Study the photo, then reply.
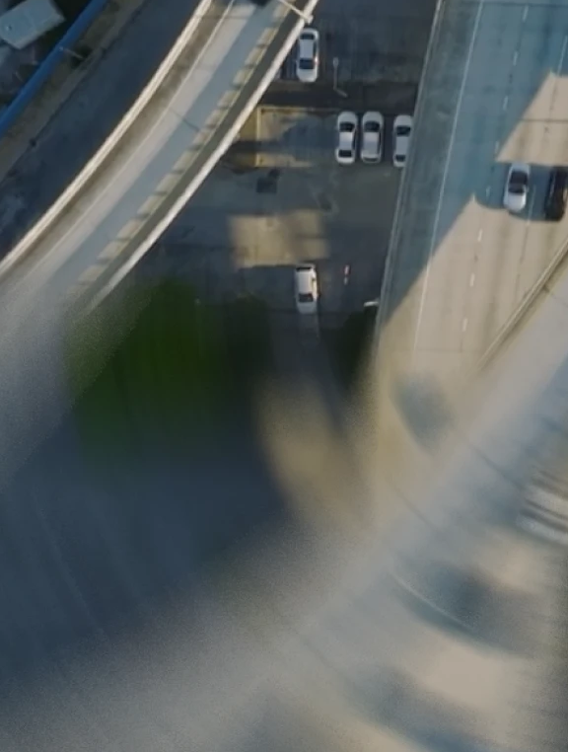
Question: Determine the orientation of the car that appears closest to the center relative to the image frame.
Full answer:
In this picture, the car that appears closest to the center is oriented up and down.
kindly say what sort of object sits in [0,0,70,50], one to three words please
trailer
